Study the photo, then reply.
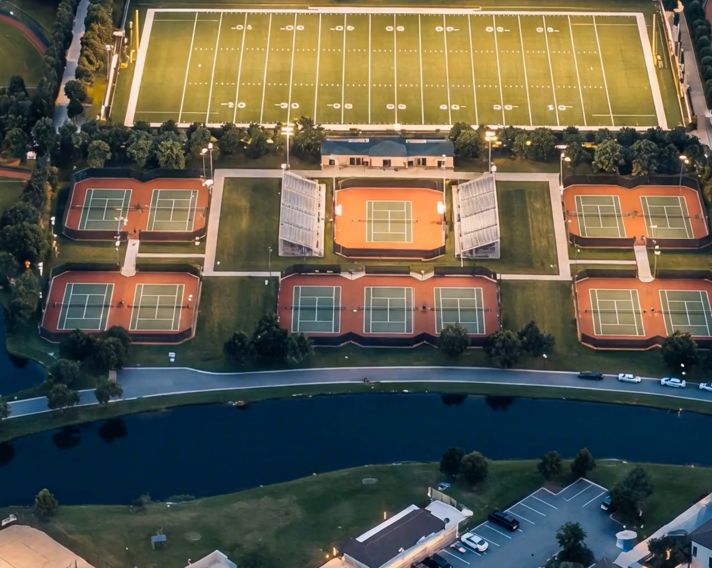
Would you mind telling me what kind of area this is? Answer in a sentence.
This image shows a sports ground.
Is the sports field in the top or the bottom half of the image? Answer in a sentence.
The sports field sits in the top half of the picture.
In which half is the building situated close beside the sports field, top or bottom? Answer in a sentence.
It is in the top half that the building situated close beside the sports field appears.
